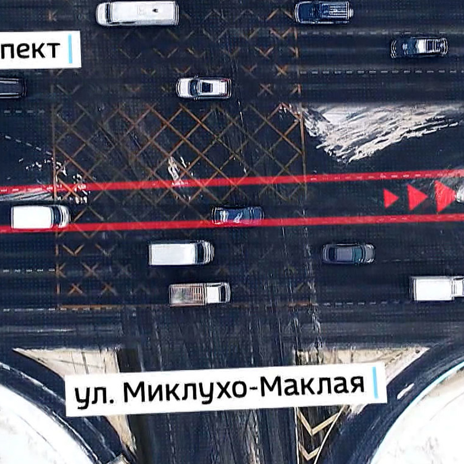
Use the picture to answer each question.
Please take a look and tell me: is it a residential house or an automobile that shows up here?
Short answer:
automobile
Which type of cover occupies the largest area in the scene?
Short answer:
paved ground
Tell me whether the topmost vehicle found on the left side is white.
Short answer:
Yes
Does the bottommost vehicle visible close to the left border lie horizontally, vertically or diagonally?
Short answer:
horizontally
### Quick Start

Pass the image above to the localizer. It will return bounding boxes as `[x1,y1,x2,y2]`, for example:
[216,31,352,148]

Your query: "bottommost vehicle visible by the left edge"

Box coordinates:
[8,204,71,232]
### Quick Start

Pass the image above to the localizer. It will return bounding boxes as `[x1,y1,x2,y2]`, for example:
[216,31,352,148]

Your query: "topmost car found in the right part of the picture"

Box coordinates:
[294,0,354,25]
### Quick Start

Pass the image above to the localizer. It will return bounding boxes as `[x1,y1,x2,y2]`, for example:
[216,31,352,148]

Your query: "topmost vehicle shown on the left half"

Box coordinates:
[96,0,179,28]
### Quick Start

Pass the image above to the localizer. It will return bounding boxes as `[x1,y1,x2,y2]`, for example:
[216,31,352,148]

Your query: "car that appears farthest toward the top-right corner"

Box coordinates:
[389,34,447,61]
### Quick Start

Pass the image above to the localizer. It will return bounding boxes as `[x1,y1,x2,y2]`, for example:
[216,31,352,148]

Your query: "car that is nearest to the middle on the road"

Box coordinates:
[211,204,264,230]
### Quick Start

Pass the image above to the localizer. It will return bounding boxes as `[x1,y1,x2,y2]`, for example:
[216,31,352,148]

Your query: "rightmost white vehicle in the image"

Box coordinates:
[408,273,464,303]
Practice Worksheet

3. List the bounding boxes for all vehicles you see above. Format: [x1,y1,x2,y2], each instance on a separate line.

[322,241,376,266]
[408,273,464,303]
[96,0,179,28]
[177,75,231,100]
[8,204,71,232]
[389,34,447,61]
[147,239,214,269]
[211,204,264,230]
[294,0,354,25]
[169,279,232,306]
